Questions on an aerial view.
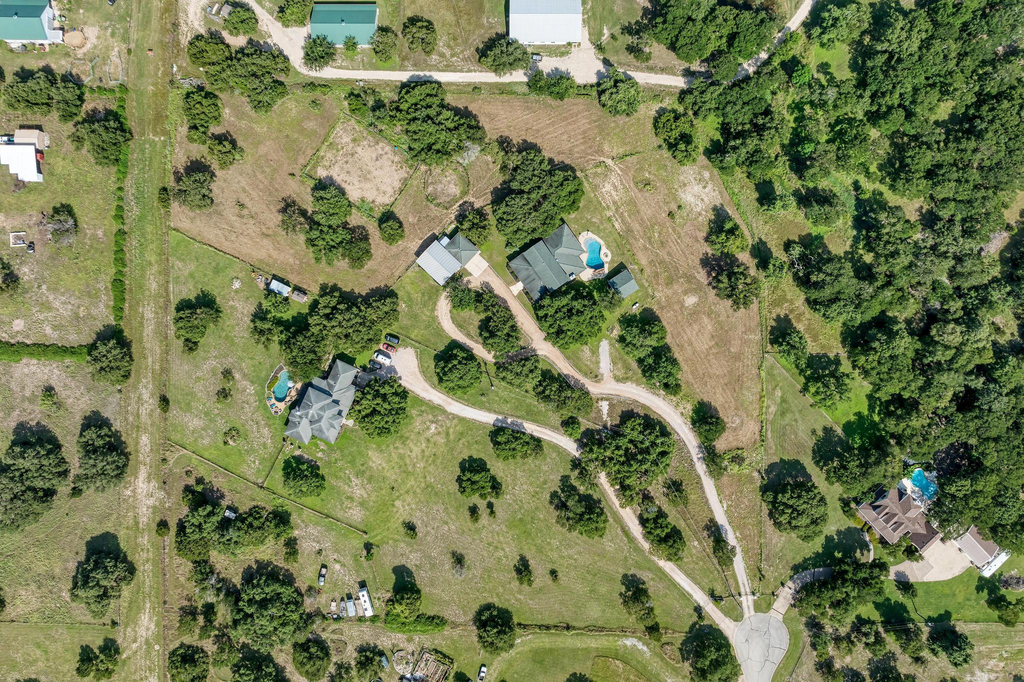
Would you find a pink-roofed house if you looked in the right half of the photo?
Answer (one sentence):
No, I see no pink-roofed house in the right half of the photo.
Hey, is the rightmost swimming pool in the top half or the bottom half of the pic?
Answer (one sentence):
The rightmost swimming pool is in the bottom half of the image.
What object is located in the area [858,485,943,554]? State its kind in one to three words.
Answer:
house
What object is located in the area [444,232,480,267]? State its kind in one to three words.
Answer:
building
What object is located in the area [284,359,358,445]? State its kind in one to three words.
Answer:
house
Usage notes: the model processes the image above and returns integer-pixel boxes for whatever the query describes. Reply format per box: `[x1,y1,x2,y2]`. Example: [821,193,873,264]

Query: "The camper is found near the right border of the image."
[977,546,1011,578]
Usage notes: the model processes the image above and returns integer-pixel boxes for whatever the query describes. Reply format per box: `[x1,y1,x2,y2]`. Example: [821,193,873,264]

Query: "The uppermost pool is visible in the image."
[579,231,611,281]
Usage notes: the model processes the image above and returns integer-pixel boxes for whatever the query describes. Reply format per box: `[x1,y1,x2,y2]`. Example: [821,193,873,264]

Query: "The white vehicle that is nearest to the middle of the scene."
[374,351,392,364]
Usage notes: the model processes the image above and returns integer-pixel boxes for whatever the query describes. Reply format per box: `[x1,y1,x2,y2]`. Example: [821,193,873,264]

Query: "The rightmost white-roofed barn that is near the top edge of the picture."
[509,0,582,46]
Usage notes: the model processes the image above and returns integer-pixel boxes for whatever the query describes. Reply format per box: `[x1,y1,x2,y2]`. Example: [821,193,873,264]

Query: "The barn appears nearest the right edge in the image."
[951,523,999,567]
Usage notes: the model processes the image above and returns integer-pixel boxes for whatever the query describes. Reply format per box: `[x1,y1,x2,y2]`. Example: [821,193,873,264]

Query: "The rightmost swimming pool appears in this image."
[901,463,943,510]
